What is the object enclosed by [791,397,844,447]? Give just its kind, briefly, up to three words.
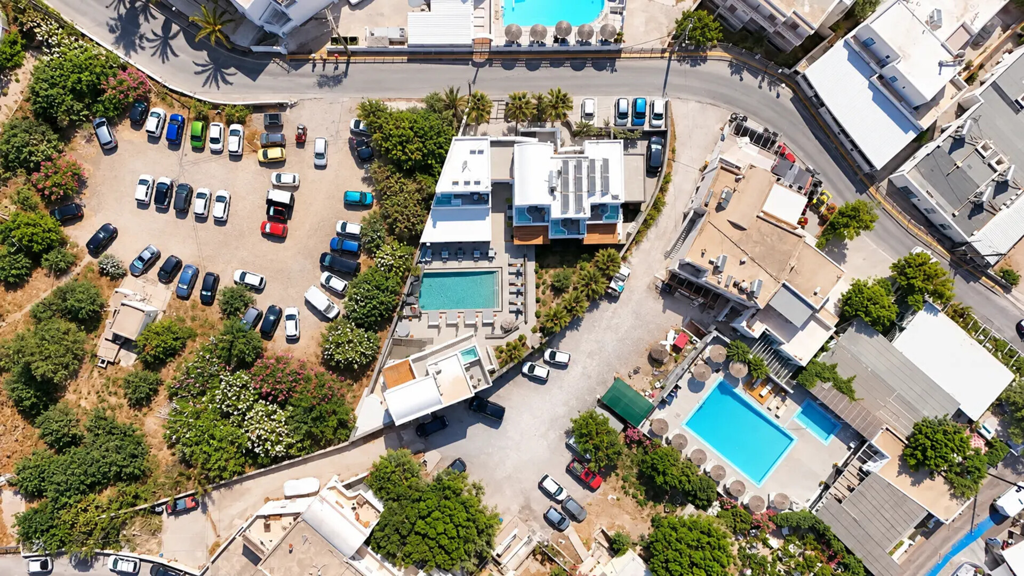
swimming pool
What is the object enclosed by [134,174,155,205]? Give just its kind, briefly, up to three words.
car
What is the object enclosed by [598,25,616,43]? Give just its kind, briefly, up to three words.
umbrella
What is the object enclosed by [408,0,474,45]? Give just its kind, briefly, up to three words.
building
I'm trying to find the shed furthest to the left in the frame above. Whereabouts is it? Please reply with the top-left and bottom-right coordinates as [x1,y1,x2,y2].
[97,290,160,361]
